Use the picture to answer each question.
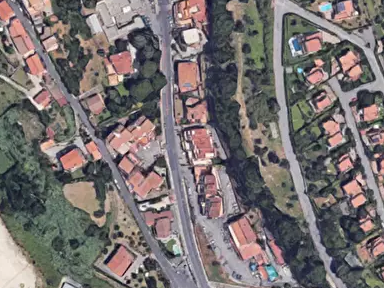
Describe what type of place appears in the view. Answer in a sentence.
What you see here is a residential area.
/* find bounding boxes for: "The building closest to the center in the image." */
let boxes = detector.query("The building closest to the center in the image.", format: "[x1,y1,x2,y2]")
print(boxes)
[185,127,216,166]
